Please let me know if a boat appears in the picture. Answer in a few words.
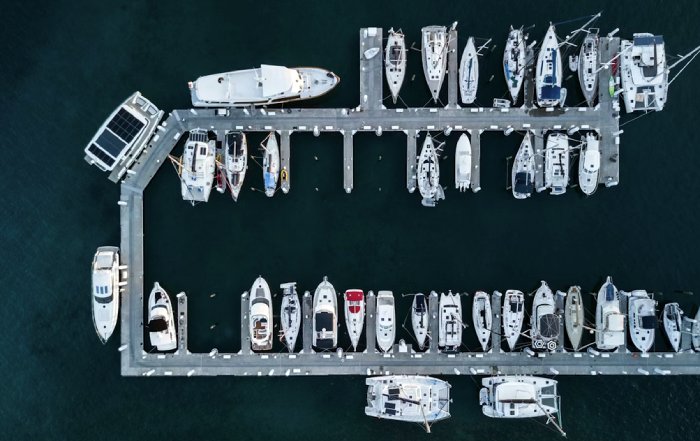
Yes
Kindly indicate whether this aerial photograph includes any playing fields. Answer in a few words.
No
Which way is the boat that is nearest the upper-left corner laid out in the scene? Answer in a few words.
diagonally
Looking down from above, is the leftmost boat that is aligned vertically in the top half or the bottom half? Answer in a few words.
bottom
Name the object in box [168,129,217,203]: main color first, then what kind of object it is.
white boat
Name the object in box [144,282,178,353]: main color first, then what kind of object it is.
white boat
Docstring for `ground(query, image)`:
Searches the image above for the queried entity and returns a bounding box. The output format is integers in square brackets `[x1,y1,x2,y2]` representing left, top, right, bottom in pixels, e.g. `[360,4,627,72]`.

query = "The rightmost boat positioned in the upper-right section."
[617,34,700,127]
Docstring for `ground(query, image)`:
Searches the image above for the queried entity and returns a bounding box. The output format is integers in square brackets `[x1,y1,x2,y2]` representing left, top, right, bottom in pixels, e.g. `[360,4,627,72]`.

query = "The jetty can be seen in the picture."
[121,28,700,376]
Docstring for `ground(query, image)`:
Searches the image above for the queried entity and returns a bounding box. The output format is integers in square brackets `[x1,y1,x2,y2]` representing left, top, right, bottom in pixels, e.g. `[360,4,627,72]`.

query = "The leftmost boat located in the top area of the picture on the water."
[85,92,167,183]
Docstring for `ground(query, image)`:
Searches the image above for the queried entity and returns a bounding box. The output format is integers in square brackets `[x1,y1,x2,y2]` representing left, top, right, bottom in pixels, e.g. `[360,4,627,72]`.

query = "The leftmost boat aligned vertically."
[90,246,123,347]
